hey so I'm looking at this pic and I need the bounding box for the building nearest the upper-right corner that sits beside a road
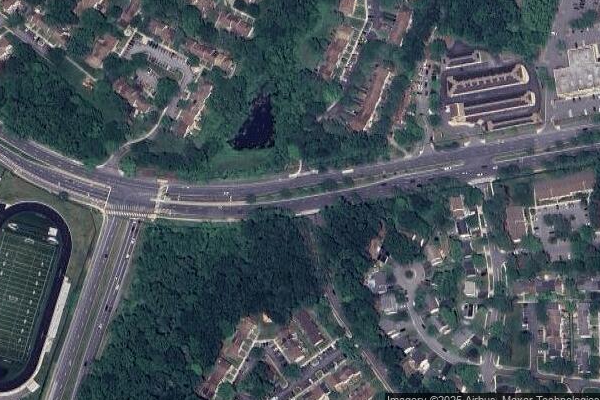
[554,44,600,100]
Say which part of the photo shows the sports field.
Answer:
bottom left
